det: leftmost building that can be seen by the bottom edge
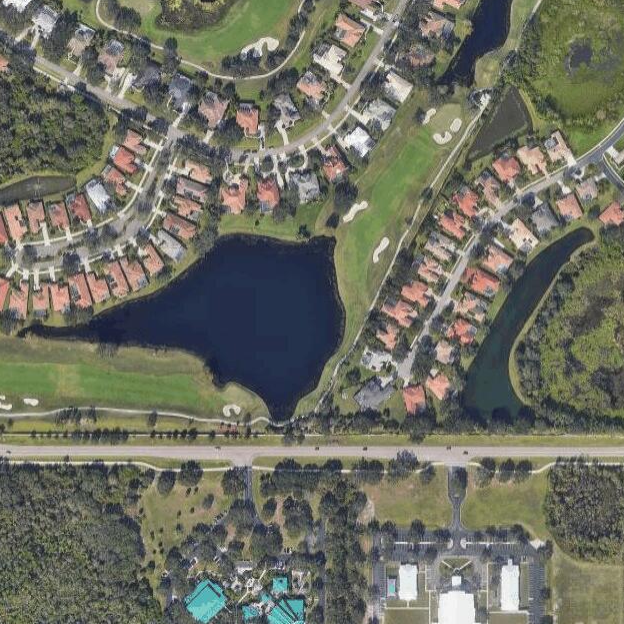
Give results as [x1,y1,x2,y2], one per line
[184,579,228,623]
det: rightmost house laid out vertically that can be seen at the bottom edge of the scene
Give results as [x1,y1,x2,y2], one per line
[501,559,520,610]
